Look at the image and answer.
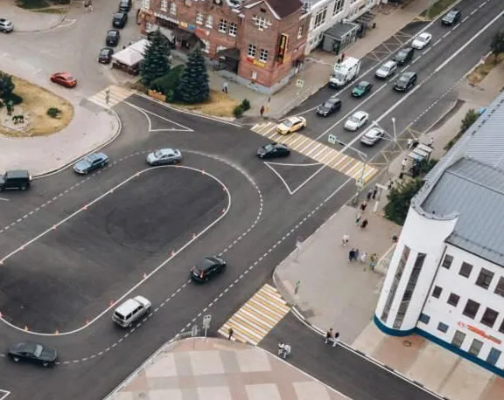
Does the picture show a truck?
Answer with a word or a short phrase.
Yes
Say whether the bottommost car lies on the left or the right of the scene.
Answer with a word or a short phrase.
left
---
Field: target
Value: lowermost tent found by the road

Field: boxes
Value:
[105,50,145,82]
